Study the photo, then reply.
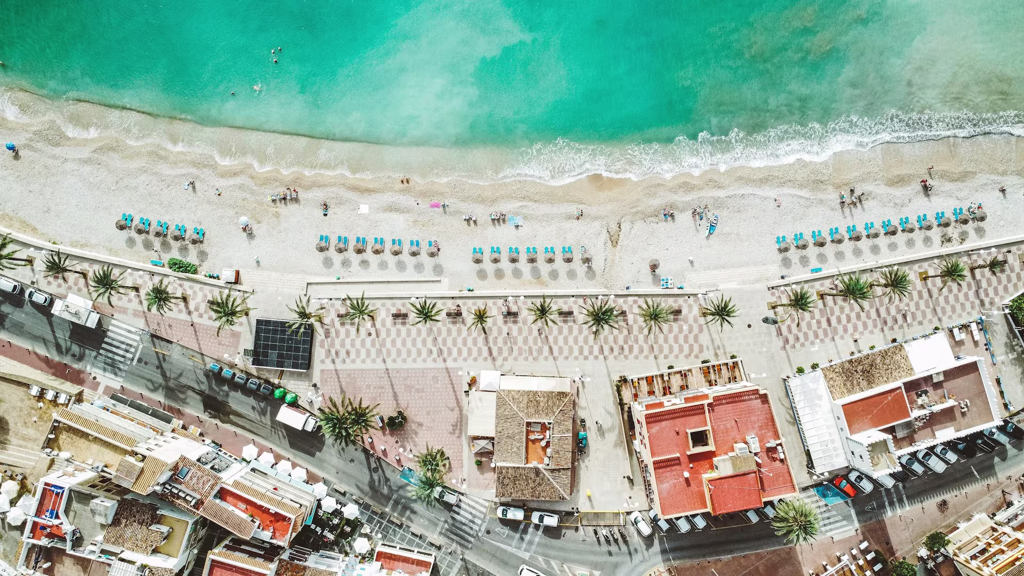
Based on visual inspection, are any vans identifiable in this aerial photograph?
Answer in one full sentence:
Yes, there's a van down there.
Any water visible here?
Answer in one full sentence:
Yes, water shows up in the scene.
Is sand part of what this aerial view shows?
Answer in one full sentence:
Yes, the picture does contain sand.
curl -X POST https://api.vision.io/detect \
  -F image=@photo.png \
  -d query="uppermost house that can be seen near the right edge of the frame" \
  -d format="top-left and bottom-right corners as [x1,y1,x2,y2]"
[779,330,1006,481]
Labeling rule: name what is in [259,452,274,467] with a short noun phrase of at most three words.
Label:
umbrella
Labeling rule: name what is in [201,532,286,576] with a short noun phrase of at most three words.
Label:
house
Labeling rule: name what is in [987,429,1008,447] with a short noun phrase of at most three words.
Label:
car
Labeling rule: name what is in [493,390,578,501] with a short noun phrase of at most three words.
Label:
building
